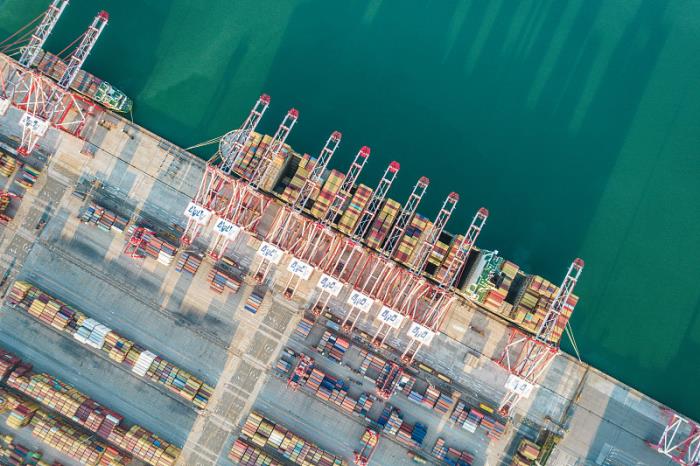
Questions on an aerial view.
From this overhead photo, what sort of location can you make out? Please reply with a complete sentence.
This looks like a port.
